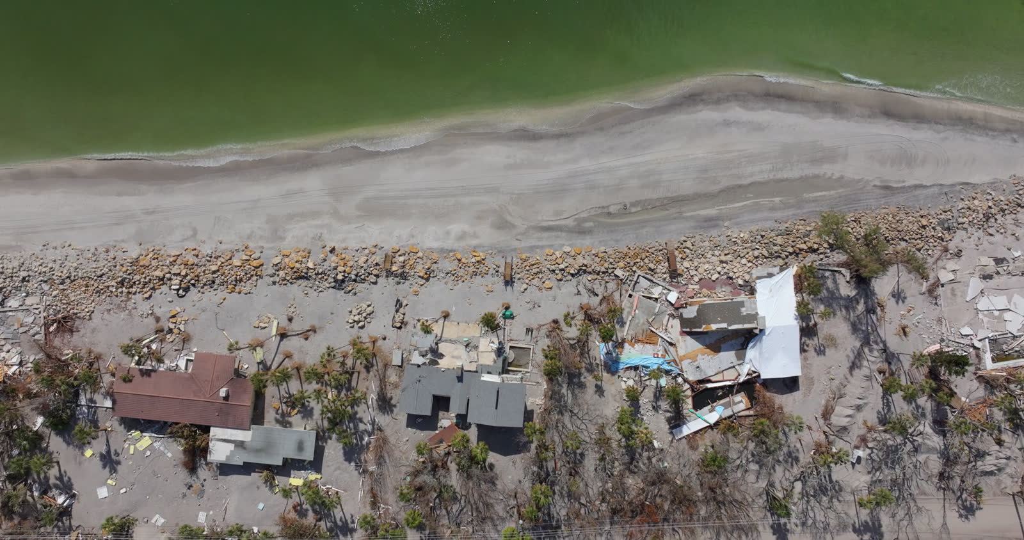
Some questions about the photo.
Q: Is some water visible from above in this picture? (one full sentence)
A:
Yes, there's water in this view.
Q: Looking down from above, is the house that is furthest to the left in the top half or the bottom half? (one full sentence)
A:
Seen from above, the house that is furthest to the left lies in the bottom half of the view.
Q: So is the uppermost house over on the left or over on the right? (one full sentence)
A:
You can find the uppermost house on the right side of the picture.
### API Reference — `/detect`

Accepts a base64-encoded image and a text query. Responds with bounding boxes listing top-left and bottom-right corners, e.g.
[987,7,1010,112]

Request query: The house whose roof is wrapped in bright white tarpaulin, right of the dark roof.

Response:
[739,267,801,381]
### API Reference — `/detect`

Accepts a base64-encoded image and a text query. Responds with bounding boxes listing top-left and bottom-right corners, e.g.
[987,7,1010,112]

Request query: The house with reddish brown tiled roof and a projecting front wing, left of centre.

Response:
[112,352,257,429]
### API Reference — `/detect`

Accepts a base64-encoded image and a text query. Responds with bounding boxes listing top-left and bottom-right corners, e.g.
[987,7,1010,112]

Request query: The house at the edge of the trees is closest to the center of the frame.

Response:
[399,357,526,428]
